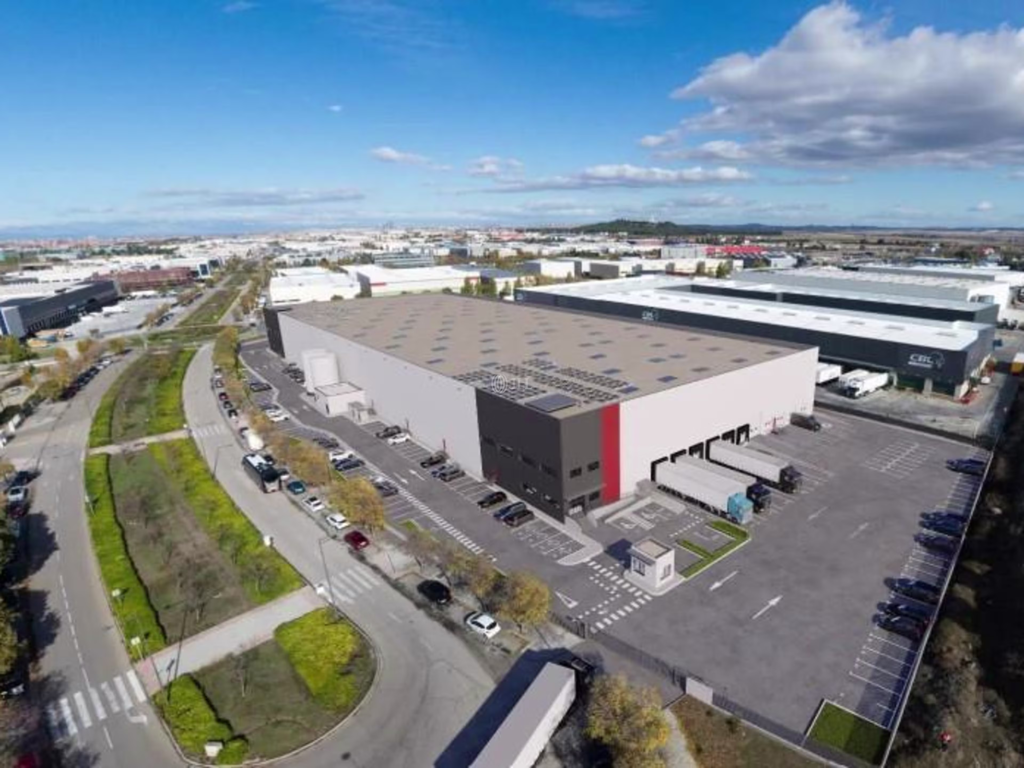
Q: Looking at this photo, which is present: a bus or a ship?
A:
bus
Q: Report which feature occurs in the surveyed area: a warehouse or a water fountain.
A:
warehouse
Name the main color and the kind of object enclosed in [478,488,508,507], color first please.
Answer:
black car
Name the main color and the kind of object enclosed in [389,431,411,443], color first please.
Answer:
white vehicle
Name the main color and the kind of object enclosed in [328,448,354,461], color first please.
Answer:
white vehicle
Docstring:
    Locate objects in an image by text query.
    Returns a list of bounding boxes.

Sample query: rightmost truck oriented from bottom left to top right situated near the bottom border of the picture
[477,659,599,768]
